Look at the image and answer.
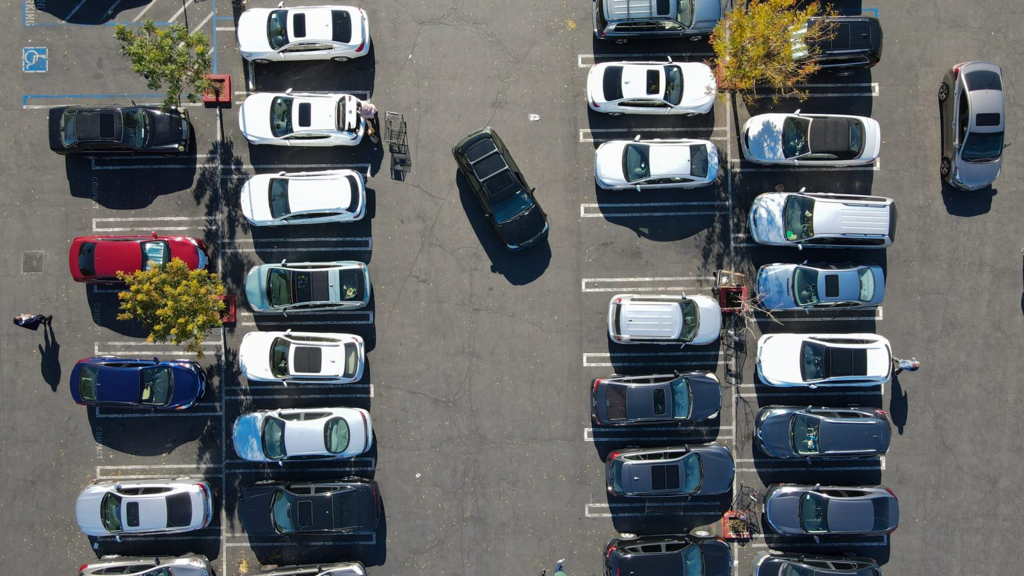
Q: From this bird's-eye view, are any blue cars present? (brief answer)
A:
Yes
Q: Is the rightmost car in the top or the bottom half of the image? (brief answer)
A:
top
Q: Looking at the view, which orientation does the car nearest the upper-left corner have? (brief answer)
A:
horizontally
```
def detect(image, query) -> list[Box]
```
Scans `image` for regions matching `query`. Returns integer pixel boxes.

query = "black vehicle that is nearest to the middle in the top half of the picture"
[453,125,548,253]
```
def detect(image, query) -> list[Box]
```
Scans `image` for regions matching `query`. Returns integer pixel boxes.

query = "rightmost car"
[938,61,1011,190]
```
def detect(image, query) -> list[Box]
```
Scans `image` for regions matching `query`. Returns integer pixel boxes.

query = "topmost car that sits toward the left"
[238,0,370,64]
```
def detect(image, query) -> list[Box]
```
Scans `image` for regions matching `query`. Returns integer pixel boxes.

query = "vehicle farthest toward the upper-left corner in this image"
[50,100,190,160]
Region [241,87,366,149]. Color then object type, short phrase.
white car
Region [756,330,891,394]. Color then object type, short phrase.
white car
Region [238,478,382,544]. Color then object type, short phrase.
black car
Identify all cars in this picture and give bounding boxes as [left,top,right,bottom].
[606,444,733,504]
[238,0,370,64]
[608,289,720,351]
[754,257,884,317]
[748,187,896,253]
[247,558,366,576]
[751,551,881,576]
[741,107,879,169]
[592,0,720,45]
[604,535,731,576]
[50,100,190,160]
[751,9,882,72]
[938,61,1011,190]
[81,554,215,576]
[248,256,371,318]
[595,134,717,193]
[77,479,214,543]
[753,404,891,465]
[71,231,209,285]
[763,482,898,543]
[241,87,366,149]
[241,327,365,391]
[591,370,719,432]
[238,478,382,544]
[71,355,206,417]
[242,165,366,231]
[587,56,716,118]
[453,125,548,253]
[756,330,891,394]
[234,406,373,469]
